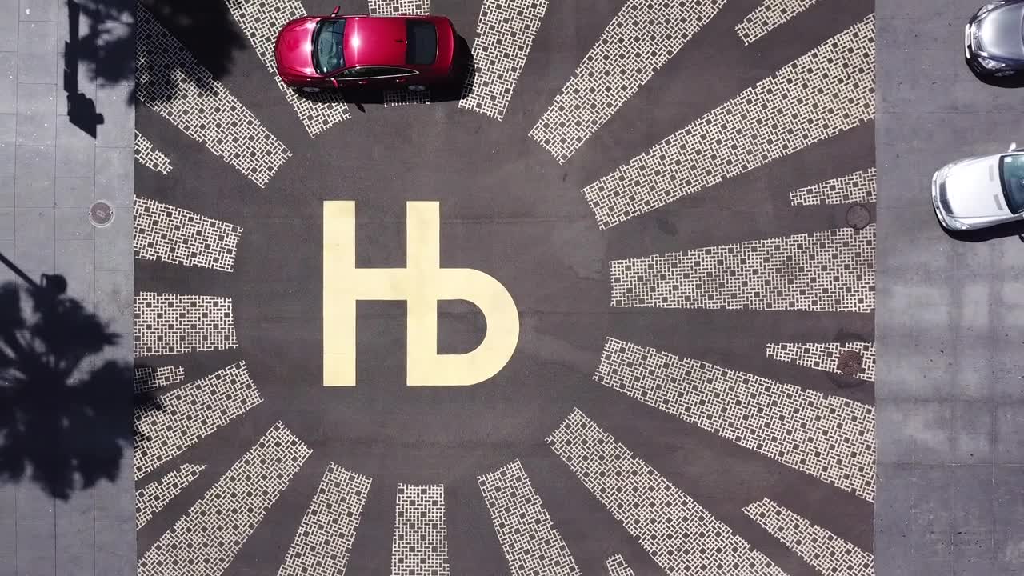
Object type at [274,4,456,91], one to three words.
car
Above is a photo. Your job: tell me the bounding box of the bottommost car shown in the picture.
[931,138,1024,224]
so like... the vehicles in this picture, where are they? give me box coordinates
[964,0,1024,69]
[274,4,456,91]
[931,138,1024,224]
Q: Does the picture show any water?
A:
No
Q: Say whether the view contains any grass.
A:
No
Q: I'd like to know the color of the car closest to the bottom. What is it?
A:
white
